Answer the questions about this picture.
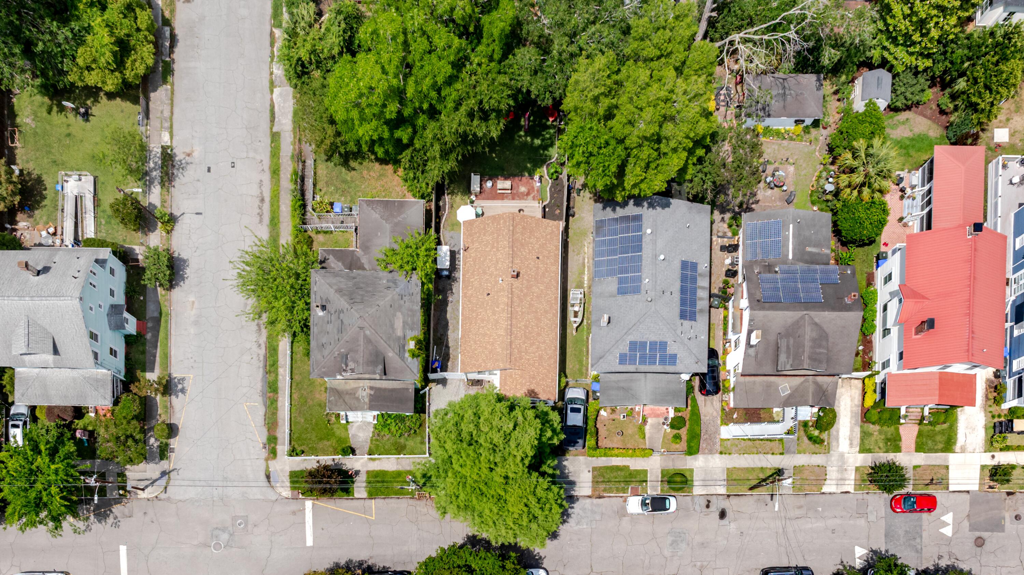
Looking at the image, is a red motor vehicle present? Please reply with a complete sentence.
Yes, I can see a red motor vehicle in this picture.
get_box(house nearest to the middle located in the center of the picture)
[458,212,562,413]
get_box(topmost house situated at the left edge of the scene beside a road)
[0,247,146,423]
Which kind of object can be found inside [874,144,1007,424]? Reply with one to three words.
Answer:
house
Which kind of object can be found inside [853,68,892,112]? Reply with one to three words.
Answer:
shed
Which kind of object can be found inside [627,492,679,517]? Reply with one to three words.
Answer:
car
